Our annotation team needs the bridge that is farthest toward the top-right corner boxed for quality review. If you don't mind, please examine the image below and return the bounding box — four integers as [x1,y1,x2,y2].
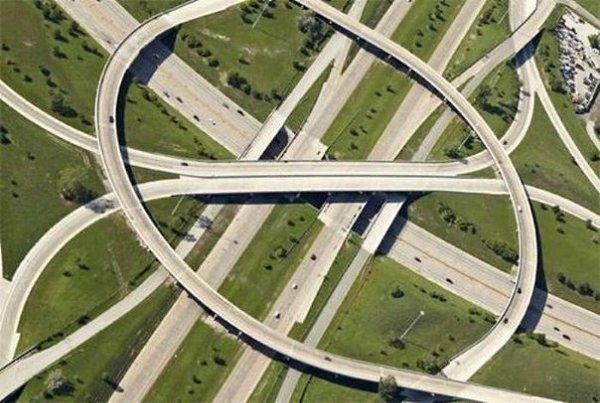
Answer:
[479,0,556,75]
